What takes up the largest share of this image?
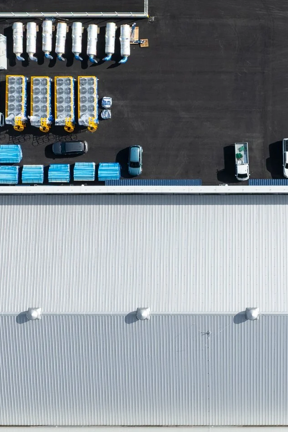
buildings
